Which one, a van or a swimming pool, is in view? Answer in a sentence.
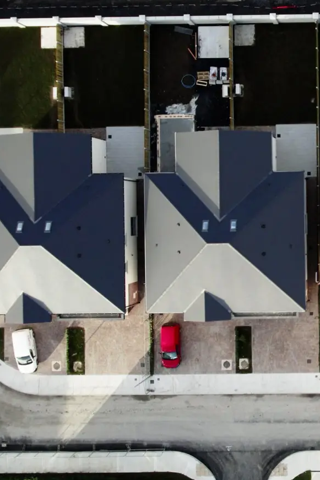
The image shows a van.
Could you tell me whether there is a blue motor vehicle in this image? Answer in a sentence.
No, no blue motor vehicle can be seen from above.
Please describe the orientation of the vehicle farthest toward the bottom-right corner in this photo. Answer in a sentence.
I'd say the vehicle farthest toward the bottom-right corner is aligned from top to bottom in the picture.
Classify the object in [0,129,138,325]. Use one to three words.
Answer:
house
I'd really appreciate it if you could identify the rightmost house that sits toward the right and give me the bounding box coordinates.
[143,127,309,322]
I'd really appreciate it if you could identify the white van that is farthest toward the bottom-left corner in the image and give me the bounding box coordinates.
[10,326,40,373]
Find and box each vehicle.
[158,322,182,367]
[10,326,40,373]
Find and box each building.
[0,129,138,325]
[143,127,309,322]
